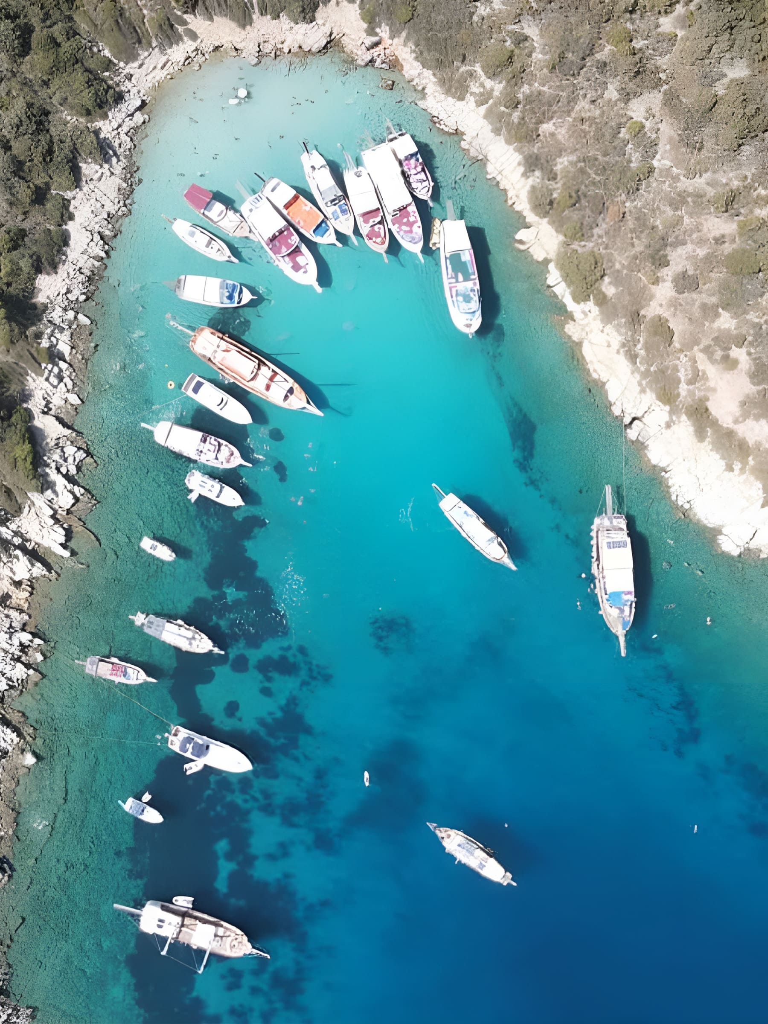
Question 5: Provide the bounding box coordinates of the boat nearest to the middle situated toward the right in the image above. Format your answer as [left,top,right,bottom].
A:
[433,484,518,570]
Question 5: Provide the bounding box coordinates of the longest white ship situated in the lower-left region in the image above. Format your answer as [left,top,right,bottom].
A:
[113,898,270,972]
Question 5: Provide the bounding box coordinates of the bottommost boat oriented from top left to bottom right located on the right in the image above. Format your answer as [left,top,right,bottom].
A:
[426,822,517,886]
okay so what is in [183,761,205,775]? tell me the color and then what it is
white boat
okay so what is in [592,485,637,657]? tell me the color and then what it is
white boat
